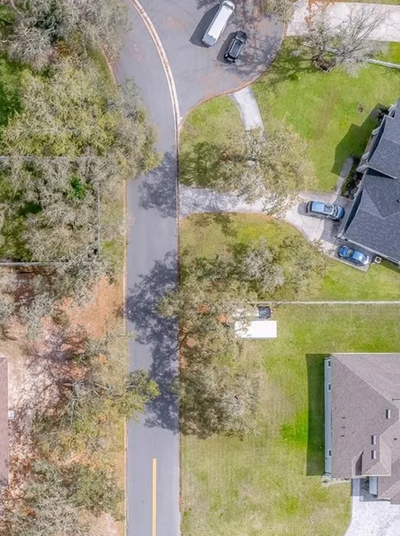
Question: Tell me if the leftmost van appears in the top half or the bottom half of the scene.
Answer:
top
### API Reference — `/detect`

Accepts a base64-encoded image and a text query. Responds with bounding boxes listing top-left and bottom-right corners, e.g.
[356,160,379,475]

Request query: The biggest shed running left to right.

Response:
[231,321,277,338]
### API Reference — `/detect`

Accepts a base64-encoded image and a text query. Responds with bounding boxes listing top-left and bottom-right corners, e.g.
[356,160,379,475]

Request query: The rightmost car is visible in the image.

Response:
[335,244,370,267]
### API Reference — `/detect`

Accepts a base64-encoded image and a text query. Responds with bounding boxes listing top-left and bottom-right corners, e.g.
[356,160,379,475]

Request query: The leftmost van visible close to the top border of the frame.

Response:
[199,5,231,52]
